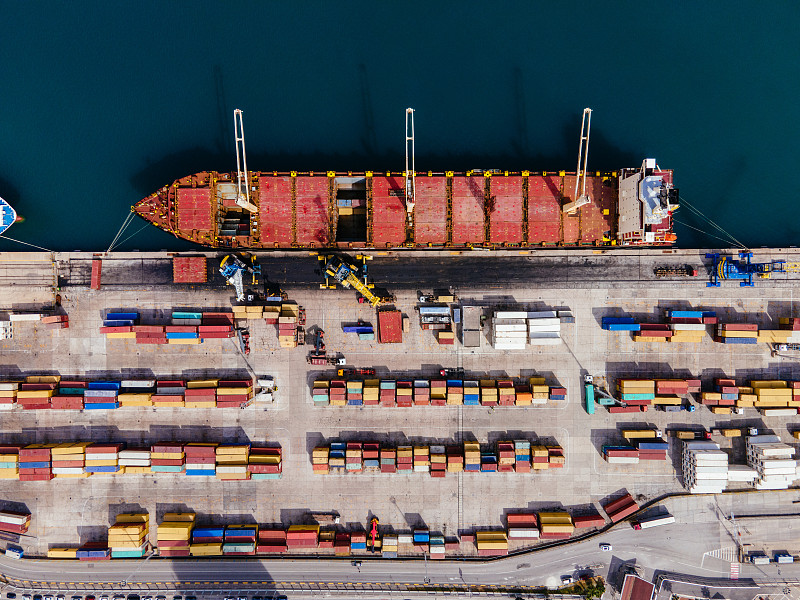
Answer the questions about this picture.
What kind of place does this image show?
port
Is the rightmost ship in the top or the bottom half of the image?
top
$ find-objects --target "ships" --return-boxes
[0,196,27,235]
[129,106,680,250]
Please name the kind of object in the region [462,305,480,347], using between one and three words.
shed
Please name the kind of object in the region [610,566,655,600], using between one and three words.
house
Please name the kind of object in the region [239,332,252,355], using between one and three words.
vehicle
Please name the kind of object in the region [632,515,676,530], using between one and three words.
vehicle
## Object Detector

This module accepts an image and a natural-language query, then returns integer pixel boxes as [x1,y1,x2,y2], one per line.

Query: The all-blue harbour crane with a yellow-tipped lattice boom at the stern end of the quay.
[705,253,800,287]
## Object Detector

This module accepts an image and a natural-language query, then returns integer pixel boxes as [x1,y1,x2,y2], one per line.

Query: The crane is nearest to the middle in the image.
[316,254,383,309]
